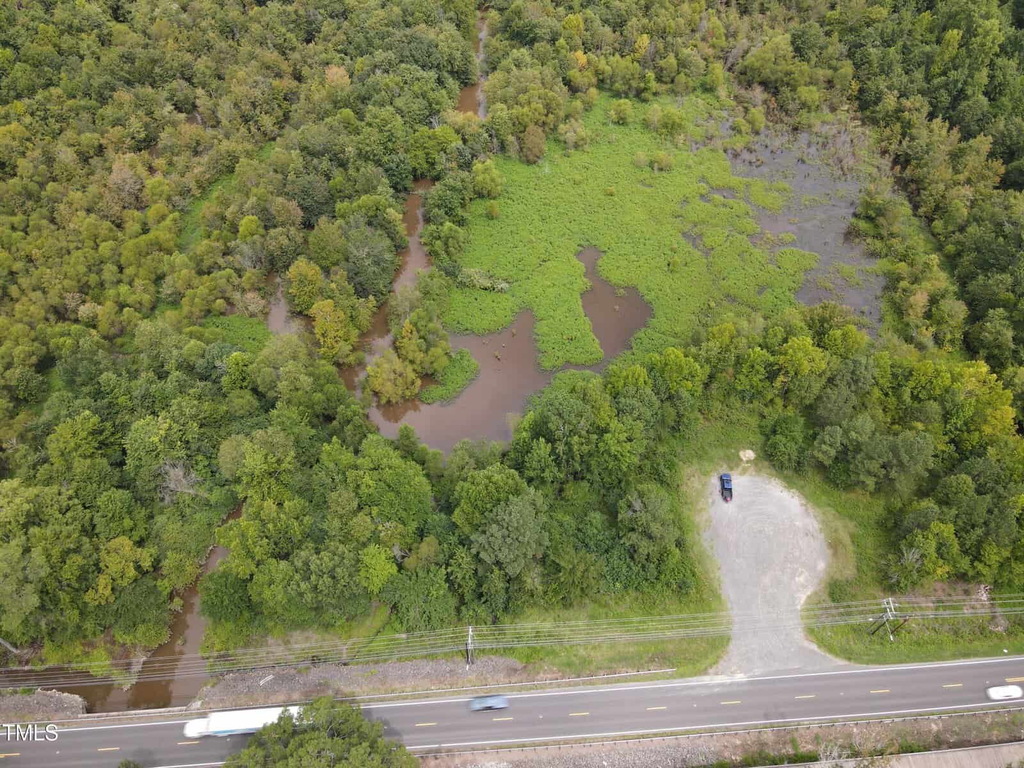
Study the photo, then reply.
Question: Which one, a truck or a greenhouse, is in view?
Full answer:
The image shows a truck.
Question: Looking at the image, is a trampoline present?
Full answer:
No, the frame has no trampoline in it.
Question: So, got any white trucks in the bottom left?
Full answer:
Yes, a white truck can be seen in the bottom left.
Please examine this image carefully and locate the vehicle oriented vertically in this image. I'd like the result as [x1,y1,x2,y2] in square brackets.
[720,476,735,503]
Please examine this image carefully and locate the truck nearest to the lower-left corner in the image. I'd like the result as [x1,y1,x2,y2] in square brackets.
[181,705,282,737]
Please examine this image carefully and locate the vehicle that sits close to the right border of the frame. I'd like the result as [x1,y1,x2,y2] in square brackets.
[987,684,1020,700]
